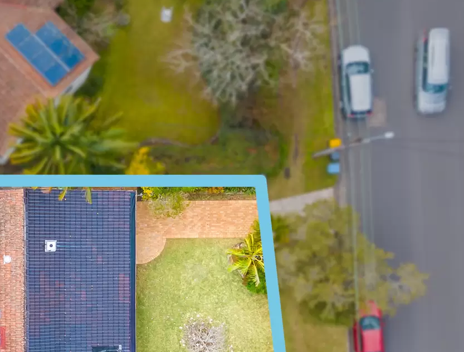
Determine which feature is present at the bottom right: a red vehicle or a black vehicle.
red vehicle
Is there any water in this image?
No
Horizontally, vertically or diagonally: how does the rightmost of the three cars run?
vertically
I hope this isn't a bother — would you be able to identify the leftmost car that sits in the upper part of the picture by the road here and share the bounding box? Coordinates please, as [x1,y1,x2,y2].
[339,46,376,117]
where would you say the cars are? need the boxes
[413,30,453,113]
[339,46,376,117]
[352,305,387,352]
